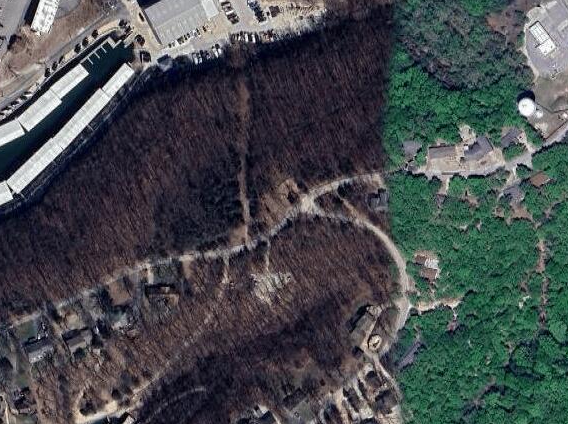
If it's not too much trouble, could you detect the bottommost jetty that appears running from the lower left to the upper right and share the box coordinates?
[7,137,63,199]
